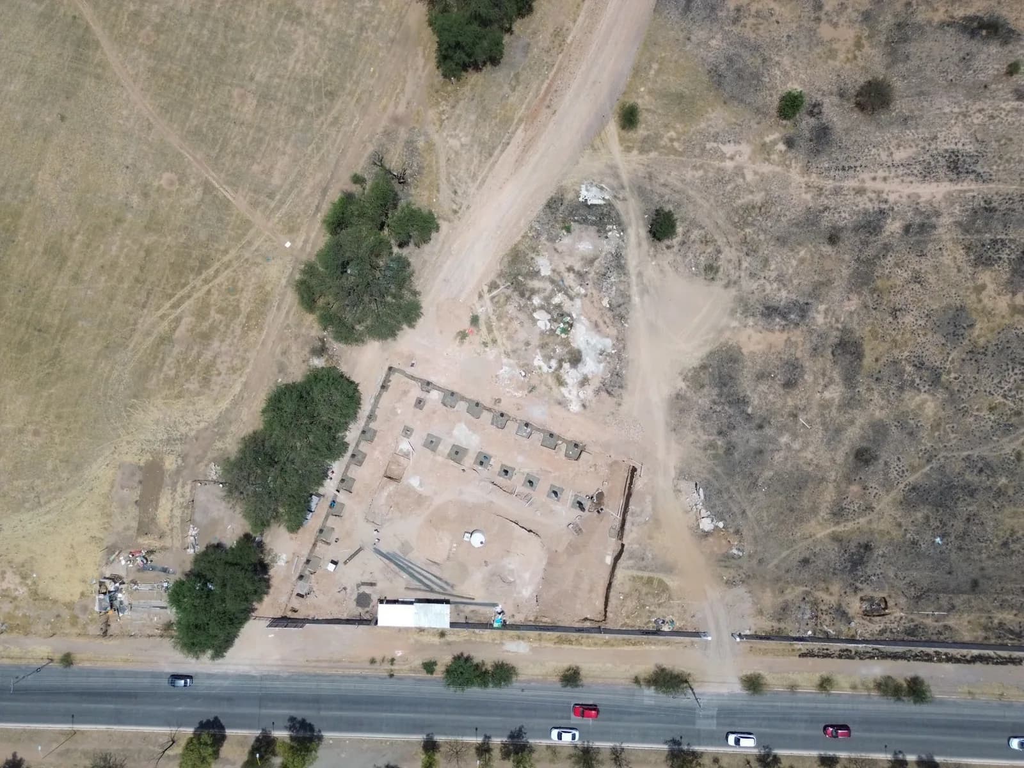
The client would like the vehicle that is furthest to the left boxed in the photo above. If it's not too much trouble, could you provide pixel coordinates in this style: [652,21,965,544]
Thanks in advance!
[167,673,192,688]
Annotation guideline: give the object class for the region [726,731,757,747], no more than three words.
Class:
car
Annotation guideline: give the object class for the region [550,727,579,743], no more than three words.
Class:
car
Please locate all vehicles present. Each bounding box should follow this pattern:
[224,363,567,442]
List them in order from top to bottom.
[167,673,192,688]
[573,704,600,719]
[824,723,852,738]
[550,727,579,743]
[726,731,757,747]
[1009,734,1024,750]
